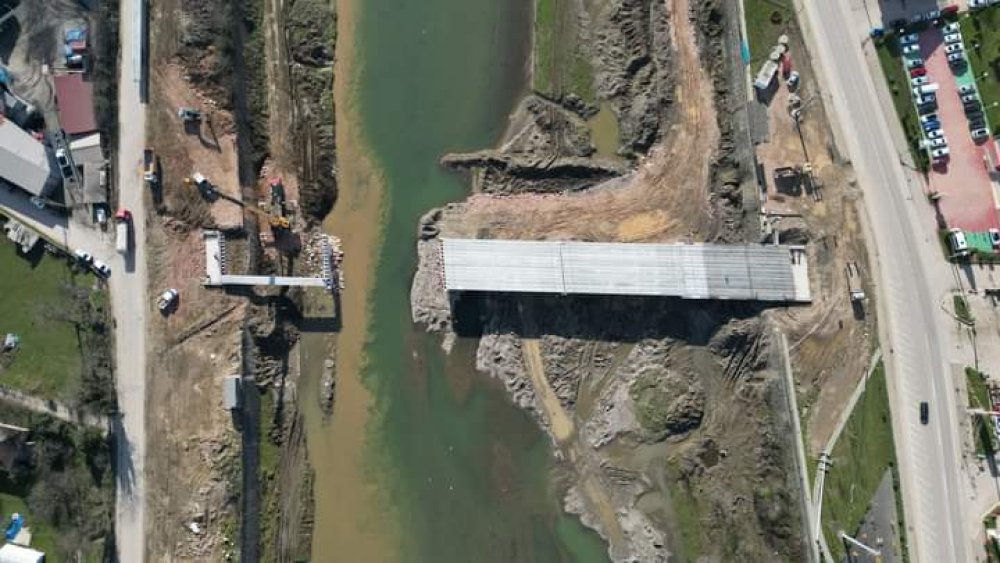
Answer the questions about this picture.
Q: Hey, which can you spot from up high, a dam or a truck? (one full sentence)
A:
The one in the frame is a truck.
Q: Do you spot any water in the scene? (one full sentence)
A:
Yes, some water is visible.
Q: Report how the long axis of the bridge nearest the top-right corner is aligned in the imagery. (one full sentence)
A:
I'd say the bridge nearest the top-right corner is aligned from left to right in the picture.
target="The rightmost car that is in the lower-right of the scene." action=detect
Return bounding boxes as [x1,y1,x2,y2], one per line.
[917,402,930,422]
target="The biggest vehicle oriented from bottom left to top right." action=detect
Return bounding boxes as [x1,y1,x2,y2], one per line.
[752,57,783,92]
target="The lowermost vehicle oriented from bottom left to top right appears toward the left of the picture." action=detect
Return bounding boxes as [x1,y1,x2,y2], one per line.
[157,291,180,309]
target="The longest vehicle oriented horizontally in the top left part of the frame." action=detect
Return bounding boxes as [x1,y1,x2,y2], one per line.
[181,107,218,121]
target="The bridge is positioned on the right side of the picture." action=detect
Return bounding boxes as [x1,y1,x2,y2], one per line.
[439,238,812,303]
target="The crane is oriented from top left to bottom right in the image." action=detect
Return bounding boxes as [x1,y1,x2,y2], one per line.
[184,163,281,225]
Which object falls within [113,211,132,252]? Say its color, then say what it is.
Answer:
white vehicle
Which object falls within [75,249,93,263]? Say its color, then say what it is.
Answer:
white car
